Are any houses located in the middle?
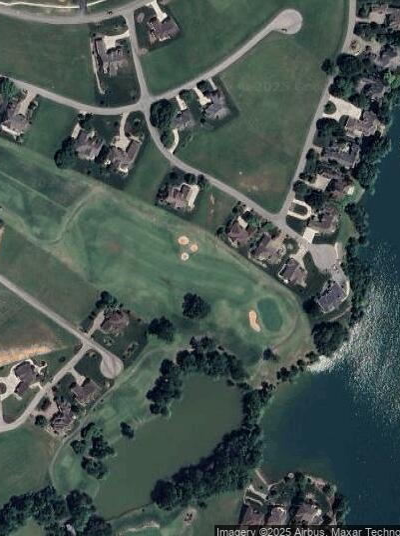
Yes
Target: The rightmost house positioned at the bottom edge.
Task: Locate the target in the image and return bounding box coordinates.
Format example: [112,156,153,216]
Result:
[293,500,328,534]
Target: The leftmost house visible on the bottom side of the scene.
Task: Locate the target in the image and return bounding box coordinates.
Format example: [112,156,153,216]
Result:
[8,362,40,396]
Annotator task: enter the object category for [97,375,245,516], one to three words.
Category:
pond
